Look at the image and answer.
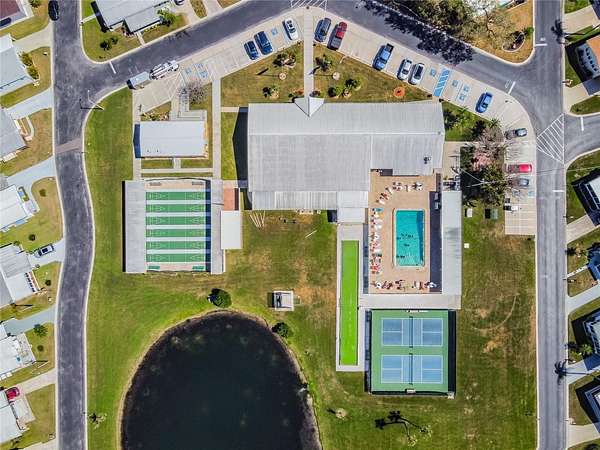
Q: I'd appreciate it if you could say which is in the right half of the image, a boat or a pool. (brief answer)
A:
pool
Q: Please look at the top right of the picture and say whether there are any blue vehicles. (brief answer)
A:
Yes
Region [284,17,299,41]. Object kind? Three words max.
car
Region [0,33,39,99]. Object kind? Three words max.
house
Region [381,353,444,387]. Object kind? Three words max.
sports court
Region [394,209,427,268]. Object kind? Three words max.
swimming pool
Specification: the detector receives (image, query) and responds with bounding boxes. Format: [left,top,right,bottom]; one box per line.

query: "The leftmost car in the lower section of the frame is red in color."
[6,386,25,399]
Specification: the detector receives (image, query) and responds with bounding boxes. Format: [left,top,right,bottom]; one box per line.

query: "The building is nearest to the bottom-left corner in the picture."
[0,388,29,444]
